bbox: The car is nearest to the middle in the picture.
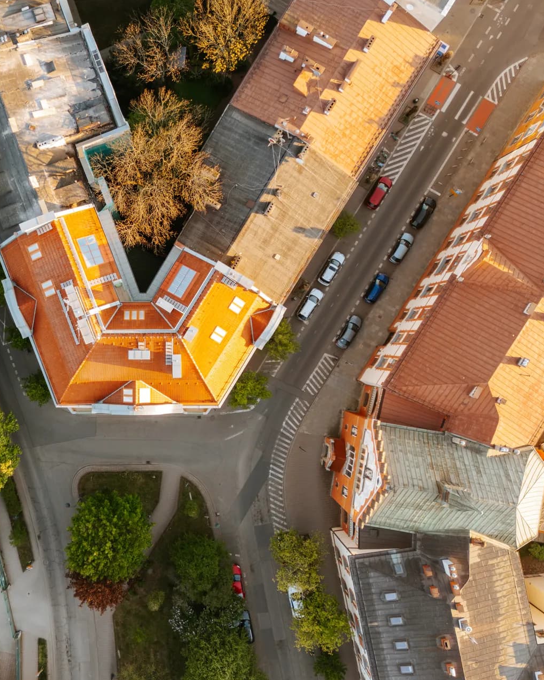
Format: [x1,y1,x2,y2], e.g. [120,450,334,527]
[294,286,326,324]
